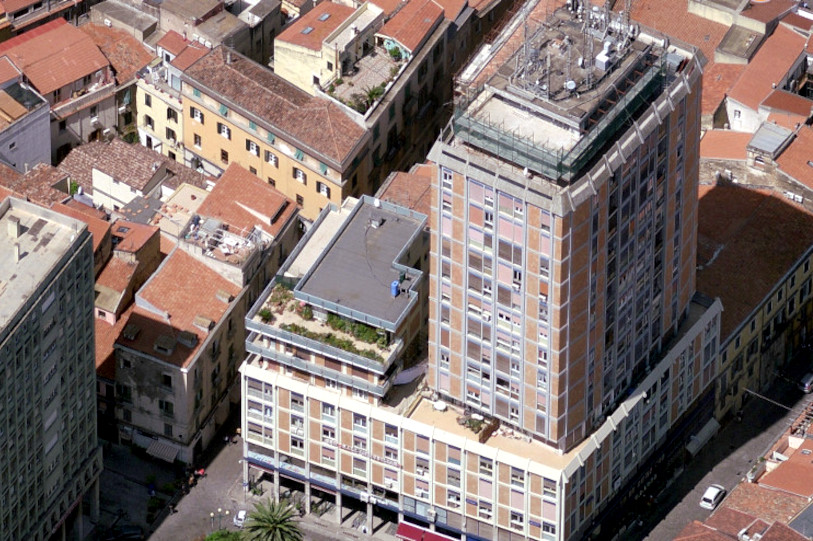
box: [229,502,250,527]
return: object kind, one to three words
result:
car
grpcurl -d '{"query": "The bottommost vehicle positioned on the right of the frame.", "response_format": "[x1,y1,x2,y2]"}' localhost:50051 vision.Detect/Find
[697,480,729,509]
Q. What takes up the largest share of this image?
buildings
